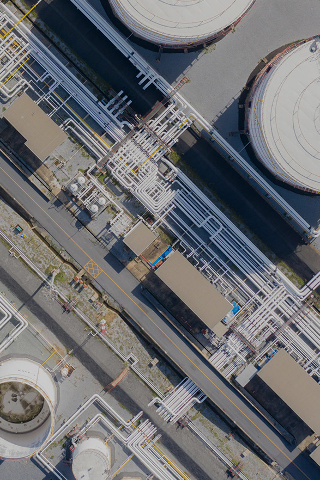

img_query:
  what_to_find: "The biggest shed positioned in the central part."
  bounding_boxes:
[147,247,234,332]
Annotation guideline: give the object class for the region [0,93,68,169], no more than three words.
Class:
shed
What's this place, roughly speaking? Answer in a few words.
industrial area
